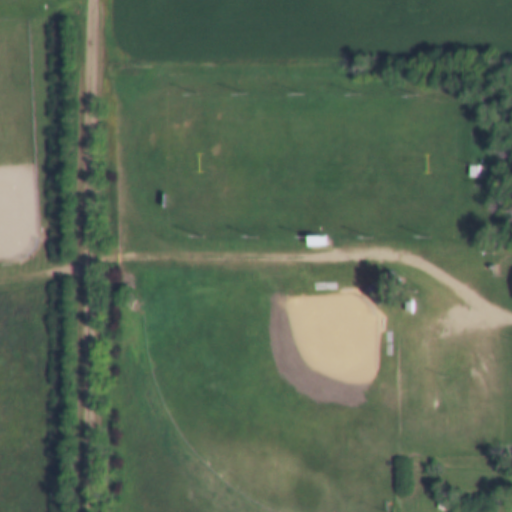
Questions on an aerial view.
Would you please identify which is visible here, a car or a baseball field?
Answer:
baseball field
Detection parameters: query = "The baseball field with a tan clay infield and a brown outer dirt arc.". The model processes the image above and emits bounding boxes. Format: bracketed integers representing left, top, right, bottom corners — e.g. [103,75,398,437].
[268,286,388,407]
